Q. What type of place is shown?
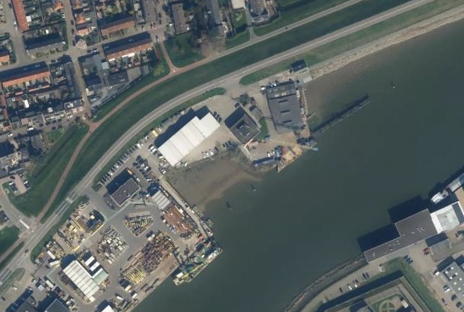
port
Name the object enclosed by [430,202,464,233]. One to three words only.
building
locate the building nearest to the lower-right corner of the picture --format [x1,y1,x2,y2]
[443,262,464,298]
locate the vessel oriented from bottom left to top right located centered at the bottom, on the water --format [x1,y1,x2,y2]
[173,246,222,285]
